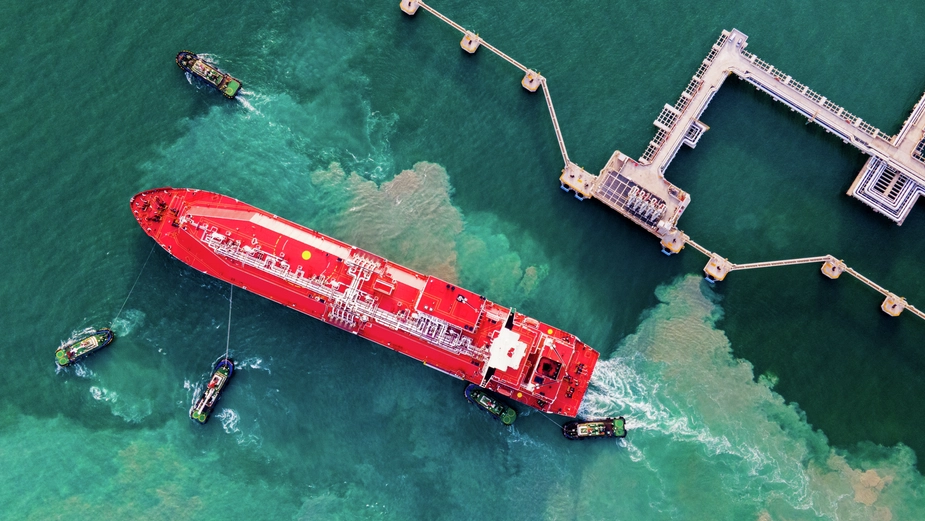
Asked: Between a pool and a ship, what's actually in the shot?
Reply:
ship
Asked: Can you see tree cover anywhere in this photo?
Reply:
No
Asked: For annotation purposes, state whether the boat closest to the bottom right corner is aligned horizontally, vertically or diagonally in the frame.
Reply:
horizontally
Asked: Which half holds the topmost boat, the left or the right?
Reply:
left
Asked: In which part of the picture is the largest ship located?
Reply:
center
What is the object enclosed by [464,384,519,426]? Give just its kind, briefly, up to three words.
boat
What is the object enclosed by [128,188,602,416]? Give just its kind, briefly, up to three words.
ship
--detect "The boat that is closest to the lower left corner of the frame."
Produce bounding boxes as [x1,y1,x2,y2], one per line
[52,327,117,368]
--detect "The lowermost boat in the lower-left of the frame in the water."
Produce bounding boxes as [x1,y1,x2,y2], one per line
[191,355,234,423]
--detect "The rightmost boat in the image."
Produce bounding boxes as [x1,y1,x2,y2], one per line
[562,417,627,439]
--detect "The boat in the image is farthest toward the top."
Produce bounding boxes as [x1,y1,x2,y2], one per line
[176,52,245,101]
